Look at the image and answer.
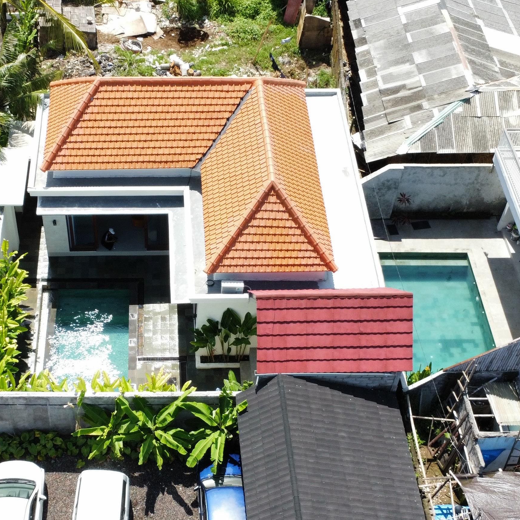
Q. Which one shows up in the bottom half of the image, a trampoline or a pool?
pool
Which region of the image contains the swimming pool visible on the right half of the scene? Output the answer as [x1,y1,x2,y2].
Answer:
[371,242,519,406]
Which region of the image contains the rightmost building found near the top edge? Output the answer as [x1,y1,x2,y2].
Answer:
[344,0,520,185]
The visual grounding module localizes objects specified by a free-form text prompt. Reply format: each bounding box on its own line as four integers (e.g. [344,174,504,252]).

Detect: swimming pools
[38,284,144,392]
[371,242,519,406]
